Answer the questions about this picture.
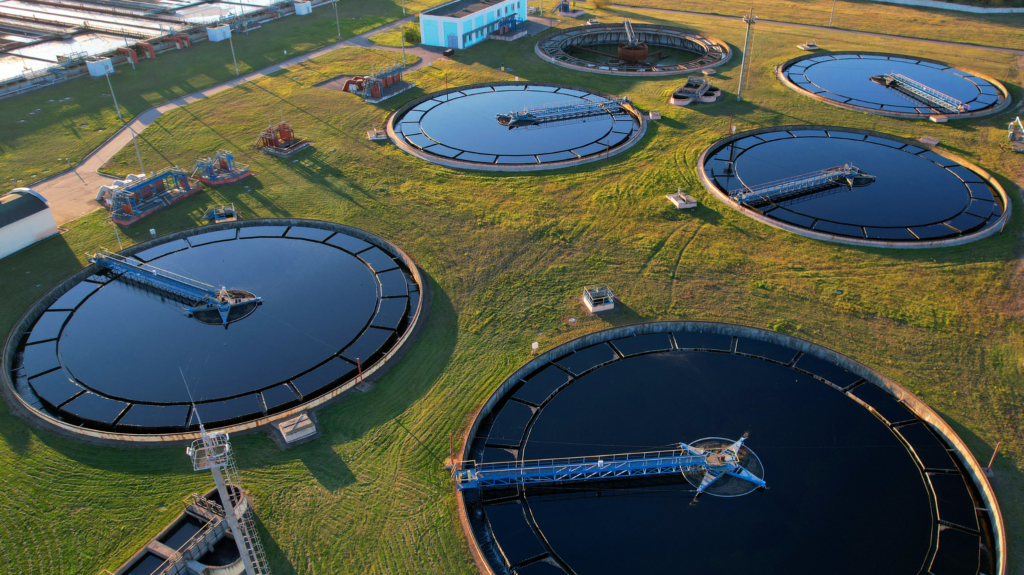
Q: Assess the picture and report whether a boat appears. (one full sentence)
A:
No, I can see no boat in this picture.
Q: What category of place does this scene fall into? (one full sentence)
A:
The picture captures an industrial area.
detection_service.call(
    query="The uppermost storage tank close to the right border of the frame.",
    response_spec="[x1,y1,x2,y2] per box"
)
[774,51,1014,121]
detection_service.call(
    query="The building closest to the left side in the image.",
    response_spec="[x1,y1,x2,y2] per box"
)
[0,182,62,262]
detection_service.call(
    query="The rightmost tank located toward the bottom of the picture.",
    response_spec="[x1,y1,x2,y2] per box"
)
[450,321,1015,575]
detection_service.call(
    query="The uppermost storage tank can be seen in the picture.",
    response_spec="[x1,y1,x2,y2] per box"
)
[533,22,734,78]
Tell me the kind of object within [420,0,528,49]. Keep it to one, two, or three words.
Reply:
building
